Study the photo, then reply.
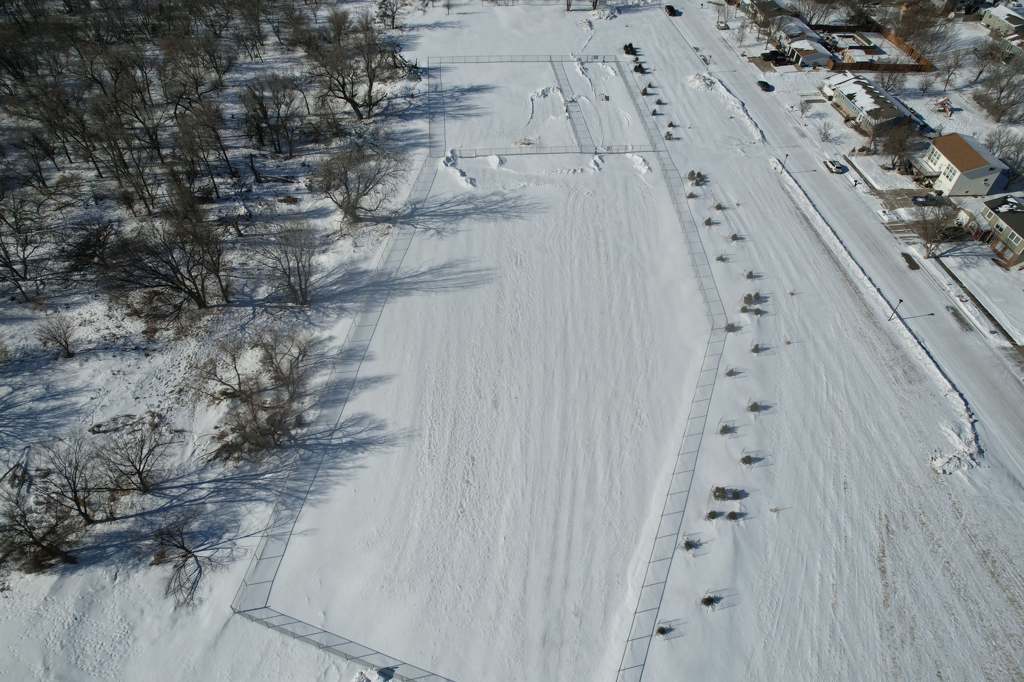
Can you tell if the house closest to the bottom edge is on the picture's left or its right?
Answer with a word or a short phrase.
right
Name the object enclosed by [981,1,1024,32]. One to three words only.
house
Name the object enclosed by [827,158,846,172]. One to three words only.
car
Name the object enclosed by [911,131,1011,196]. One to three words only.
house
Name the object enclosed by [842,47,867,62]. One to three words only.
shed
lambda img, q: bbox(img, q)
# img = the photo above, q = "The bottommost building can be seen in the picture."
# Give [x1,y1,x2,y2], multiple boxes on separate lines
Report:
[945,191,1024,277]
